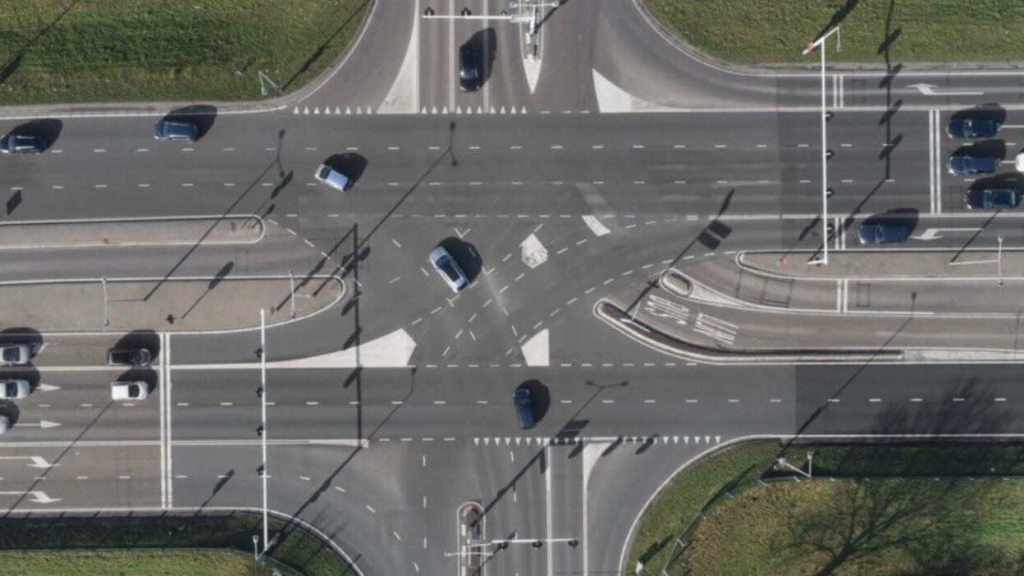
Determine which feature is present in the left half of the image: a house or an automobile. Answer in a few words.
automobile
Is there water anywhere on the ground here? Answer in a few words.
No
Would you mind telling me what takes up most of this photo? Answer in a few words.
paved ground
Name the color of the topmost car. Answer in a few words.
black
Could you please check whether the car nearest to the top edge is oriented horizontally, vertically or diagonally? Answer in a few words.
vertically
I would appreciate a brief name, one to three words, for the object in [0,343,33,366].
car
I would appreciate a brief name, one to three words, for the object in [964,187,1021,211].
car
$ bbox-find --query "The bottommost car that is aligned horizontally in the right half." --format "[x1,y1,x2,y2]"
[856,221,908,245]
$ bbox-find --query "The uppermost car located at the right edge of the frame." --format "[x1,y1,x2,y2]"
[945,116,999,139]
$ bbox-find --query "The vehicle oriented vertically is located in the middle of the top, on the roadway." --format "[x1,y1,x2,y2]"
[458,45,481,91]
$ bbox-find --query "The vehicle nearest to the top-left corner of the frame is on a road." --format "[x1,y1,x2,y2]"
[2,131,48,154]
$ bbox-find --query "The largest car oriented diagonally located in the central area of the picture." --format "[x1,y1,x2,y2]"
[428,246,470,293]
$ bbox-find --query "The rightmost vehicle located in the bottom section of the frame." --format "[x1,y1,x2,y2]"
[512,386,536,429]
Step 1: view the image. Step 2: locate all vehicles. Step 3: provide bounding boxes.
[0,378,32,401]
[109,345,153,367]
[154,119,199,142]
[946,152,999,176]
[2,131,48,154]
[856,221,908,245]
[964,187,1021,211]
[945,116,999,139]
[109,380,151,401]
[0,343,33,366]
[314,162,352,192]
[1013,153,1024,173]
[458,45,481,91]
[428,246,470,293]
[512,386,536,429]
